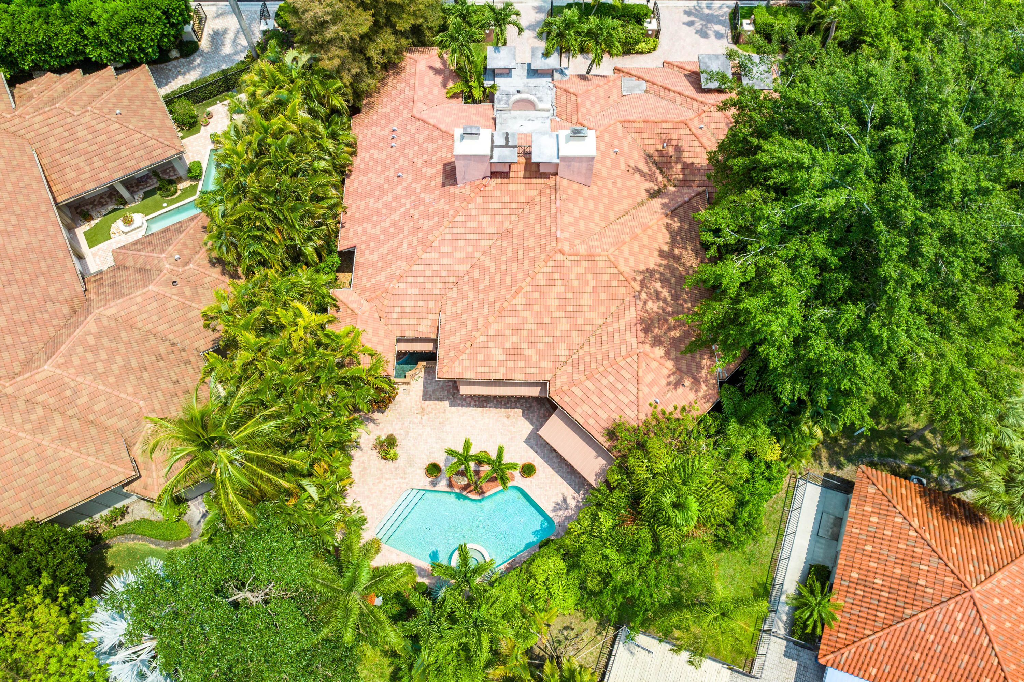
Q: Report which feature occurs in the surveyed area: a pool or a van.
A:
pool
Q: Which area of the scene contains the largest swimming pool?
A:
bottom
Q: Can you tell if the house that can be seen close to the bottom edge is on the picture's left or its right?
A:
right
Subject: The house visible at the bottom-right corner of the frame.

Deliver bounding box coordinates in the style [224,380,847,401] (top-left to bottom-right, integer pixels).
[816,465,1024,682]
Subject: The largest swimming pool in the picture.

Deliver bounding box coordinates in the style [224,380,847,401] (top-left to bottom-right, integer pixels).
[373,481,561,588]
